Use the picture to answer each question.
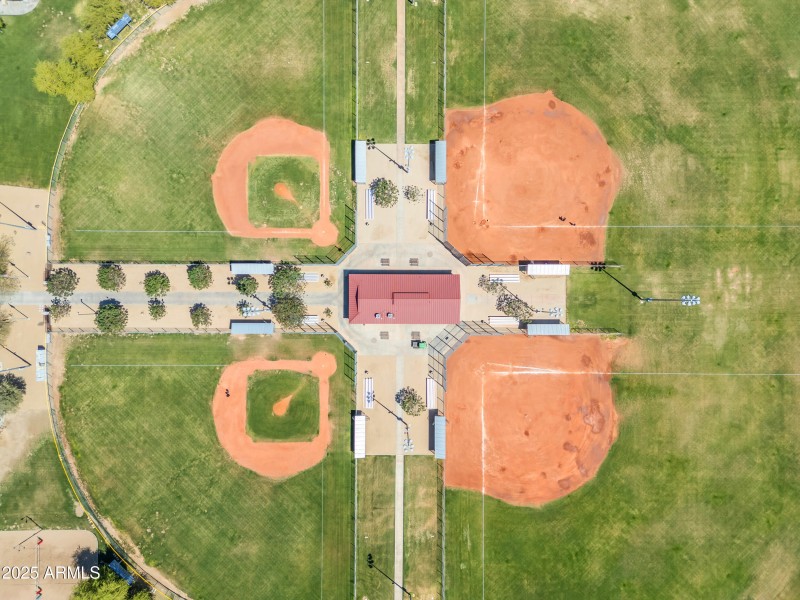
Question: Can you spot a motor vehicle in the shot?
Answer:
No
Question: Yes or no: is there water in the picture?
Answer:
No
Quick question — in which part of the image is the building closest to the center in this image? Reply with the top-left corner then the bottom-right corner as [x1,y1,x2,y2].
[348,273,461,324]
